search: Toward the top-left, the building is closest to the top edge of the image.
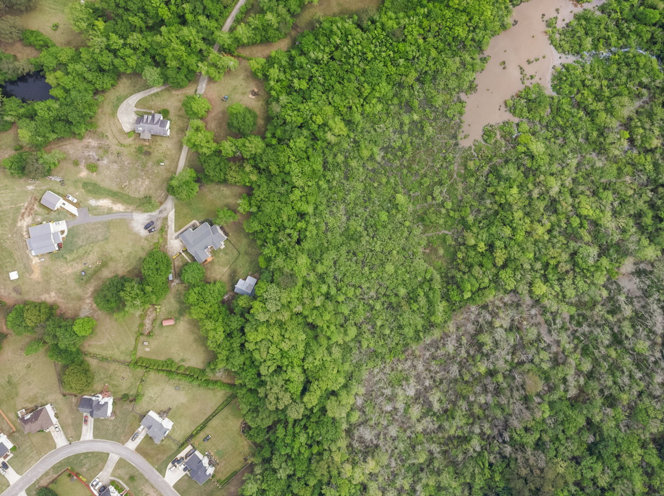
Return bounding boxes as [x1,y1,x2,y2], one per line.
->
[134,115,171,143]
